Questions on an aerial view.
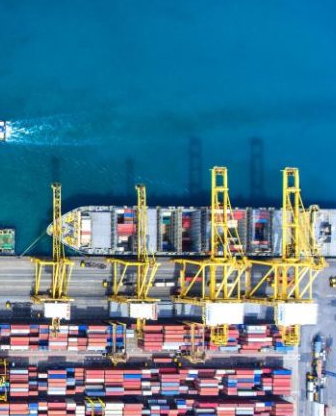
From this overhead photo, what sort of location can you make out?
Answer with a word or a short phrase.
port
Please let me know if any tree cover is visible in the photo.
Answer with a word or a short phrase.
No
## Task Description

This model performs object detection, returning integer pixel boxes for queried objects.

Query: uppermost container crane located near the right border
[231,169,325,350]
